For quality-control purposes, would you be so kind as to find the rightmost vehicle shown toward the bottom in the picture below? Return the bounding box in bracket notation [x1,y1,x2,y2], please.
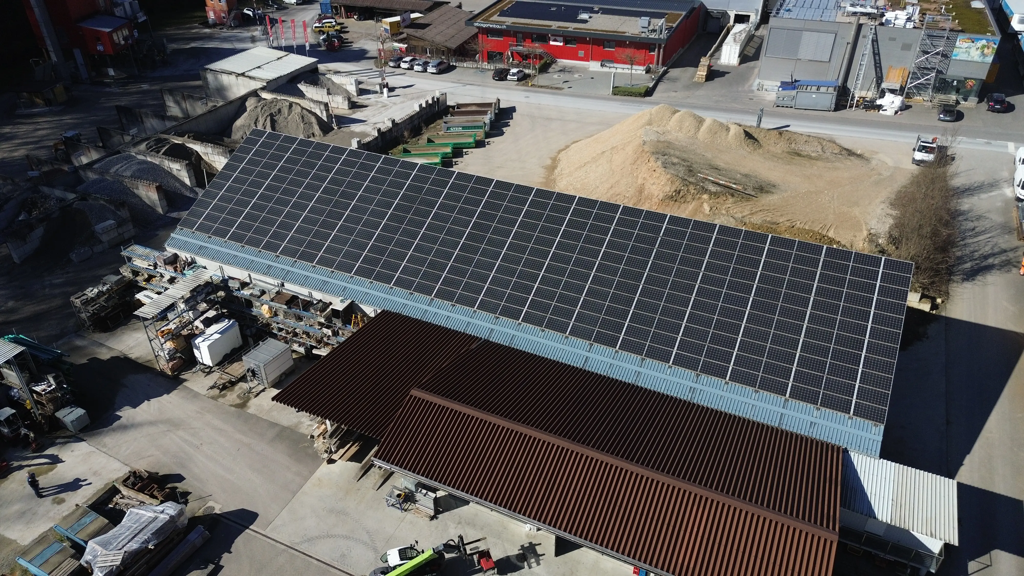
[372,529,494,576]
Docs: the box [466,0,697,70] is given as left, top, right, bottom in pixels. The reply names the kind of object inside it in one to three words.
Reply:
building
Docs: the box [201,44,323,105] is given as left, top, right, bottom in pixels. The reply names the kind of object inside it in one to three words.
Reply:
shed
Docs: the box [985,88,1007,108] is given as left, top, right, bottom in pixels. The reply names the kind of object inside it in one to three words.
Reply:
car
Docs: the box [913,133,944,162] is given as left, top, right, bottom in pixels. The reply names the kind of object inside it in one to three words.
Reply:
truck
